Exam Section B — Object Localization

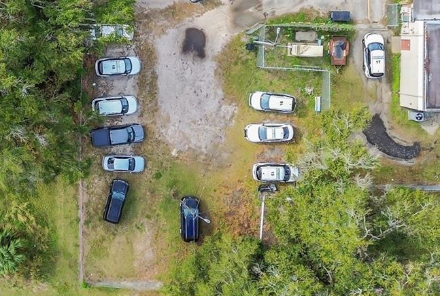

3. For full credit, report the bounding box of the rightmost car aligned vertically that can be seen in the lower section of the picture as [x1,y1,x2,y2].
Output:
[180,195,201,242]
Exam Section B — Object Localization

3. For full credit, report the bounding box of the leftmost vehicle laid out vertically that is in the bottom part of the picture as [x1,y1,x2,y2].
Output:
[103,177,129,224]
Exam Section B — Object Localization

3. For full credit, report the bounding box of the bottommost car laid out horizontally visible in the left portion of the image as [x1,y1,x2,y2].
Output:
[102,154,145,175]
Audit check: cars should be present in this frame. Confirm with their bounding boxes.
[91,94,138,117]
[244,122,292,143]
[102,154,145,175]
[248,91,295,112]
[103,177,129,224]
[95,55,140,77]
[360,32,386,79]
[100,21,133,43]
[180,195,201,242]
[252,161,298,185]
